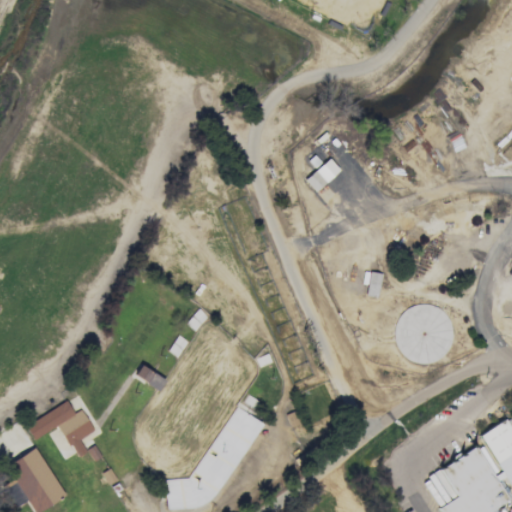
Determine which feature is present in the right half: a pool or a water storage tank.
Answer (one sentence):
The one visible in the right half is a water storage tank.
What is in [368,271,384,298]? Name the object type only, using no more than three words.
shed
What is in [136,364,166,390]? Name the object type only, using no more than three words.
barn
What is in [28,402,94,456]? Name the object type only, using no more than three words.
house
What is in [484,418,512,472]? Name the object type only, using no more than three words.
building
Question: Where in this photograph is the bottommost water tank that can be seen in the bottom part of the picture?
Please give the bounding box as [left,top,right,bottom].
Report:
[396,305,454,364]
